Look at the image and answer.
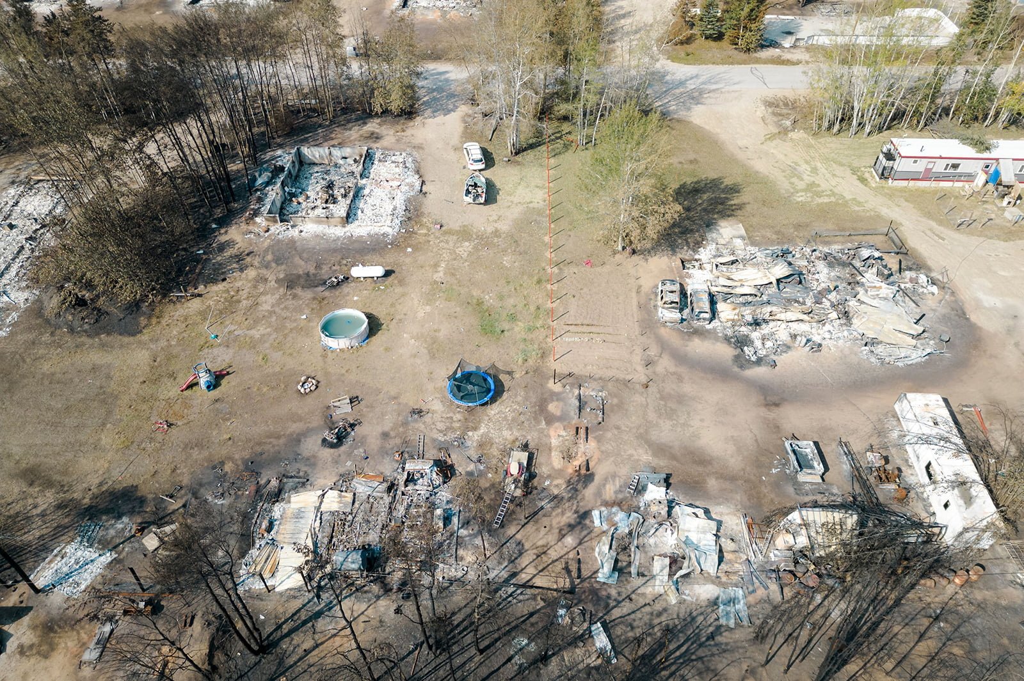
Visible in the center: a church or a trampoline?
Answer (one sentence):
The feature located in the center is a trampoline.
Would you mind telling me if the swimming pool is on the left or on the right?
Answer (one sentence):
You can find the swimming pool on the left side of the picture.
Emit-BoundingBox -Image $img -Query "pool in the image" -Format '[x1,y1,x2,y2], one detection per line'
[318,308,371,350]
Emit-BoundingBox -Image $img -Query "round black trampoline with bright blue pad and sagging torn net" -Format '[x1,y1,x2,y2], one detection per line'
[446,358,514,411]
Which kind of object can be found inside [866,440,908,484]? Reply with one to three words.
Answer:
work vehicle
